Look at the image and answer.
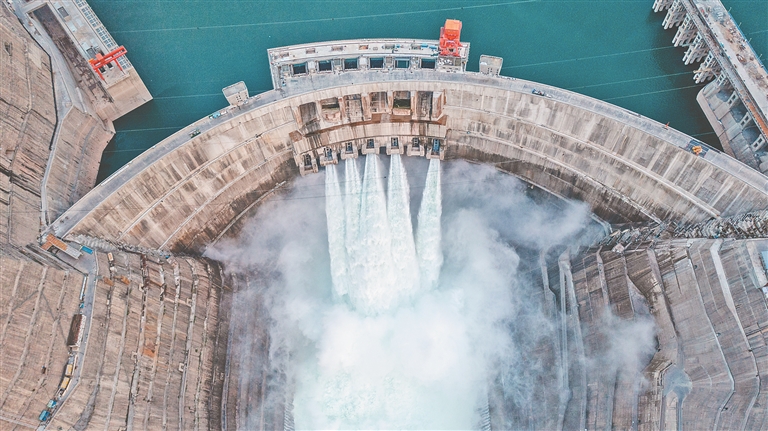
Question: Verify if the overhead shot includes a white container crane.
No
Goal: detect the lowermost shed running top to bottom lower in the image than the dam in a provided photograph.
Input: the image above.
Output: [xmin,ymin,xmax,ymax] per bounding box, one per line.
[68,313,88,348]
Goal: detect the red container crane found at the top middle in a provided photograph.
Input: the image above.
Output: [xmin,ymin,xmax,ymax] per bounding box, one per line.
[439,24,460,58]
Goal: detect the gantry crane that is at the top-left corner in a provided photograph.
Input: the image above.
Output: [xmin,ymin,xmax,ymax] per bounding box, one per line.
[86,45,130,85]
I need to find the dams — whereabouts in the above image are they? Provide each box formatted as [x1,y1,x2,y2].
[42,35,768,265]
